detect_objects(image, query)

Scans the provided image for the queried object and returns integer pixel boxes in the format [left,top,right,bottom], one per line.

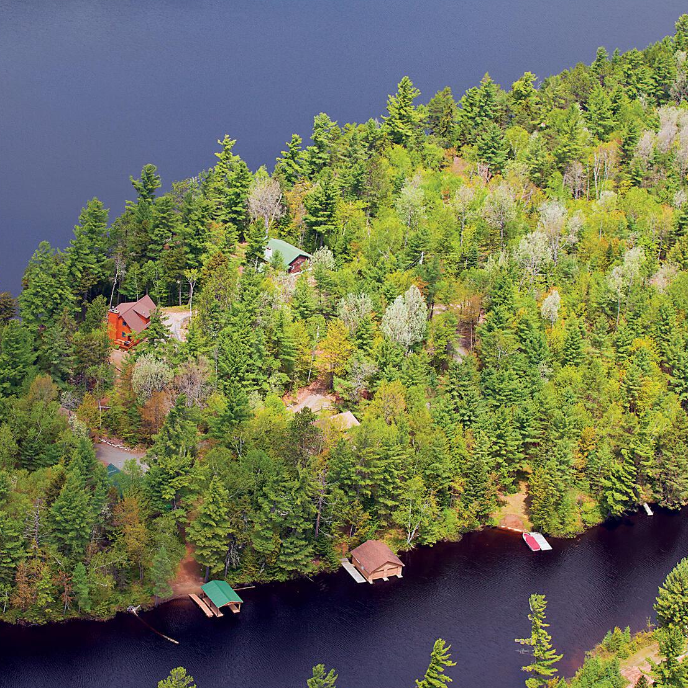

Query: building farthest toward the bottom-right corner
[350,538,403,581]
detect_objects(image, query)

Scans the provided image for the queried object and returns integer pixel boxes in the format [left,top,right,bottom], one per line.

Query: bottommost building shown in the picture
[202,577,243,618]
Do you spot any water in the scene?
Yes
